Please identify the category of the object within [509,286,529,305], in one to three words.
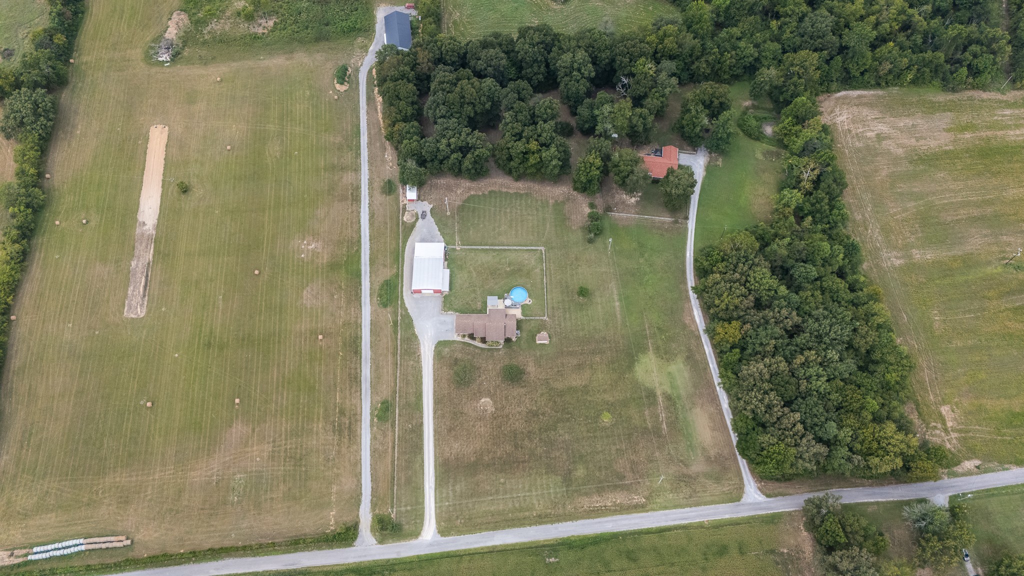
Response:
swimming pool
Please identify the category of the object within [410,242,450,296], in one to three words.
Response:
barn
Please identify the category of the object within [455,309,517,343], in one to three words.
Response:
house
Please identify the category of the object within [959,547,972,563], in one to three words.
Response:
vehicle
